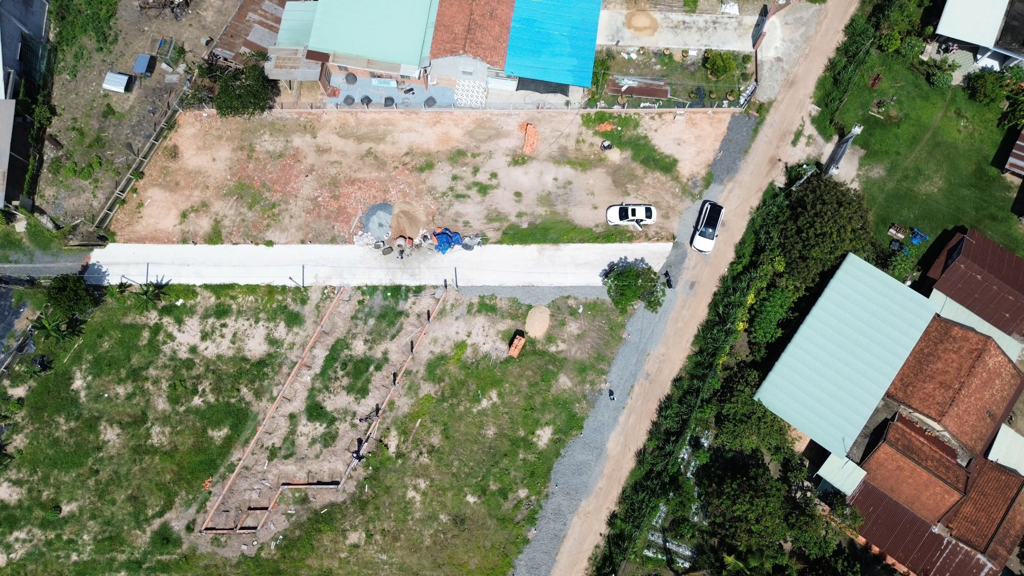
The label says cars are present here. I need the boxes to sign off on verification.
[607,202,658,232]
[693,201,721,252]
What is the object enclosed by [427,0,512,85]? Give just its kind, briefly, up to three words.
house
